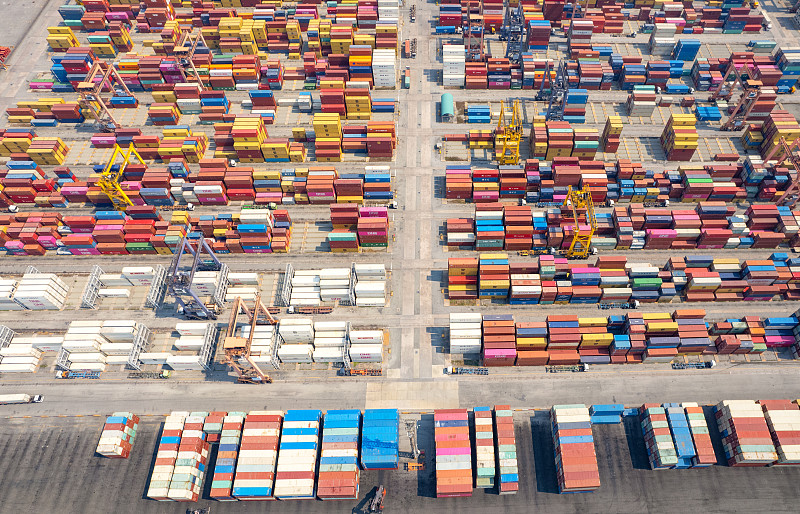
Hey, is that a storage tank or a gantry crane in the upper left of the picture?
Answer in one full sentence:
You can see a gantry crane in the upper left of the picture.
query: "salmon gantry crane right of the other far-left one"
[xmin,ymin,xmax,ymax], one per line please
[175,34,209,91]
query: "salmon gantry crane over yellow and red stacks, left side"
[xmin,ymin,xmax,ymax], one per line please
[76,66,130,134]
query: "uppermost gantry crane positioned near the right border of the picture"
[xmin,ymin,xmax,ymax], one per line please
[706,64,766,129]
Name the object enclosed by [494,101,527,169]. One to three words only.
container crane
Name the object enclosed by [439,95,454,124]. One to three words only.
shed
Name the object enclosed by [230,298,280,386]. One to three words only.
container crane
